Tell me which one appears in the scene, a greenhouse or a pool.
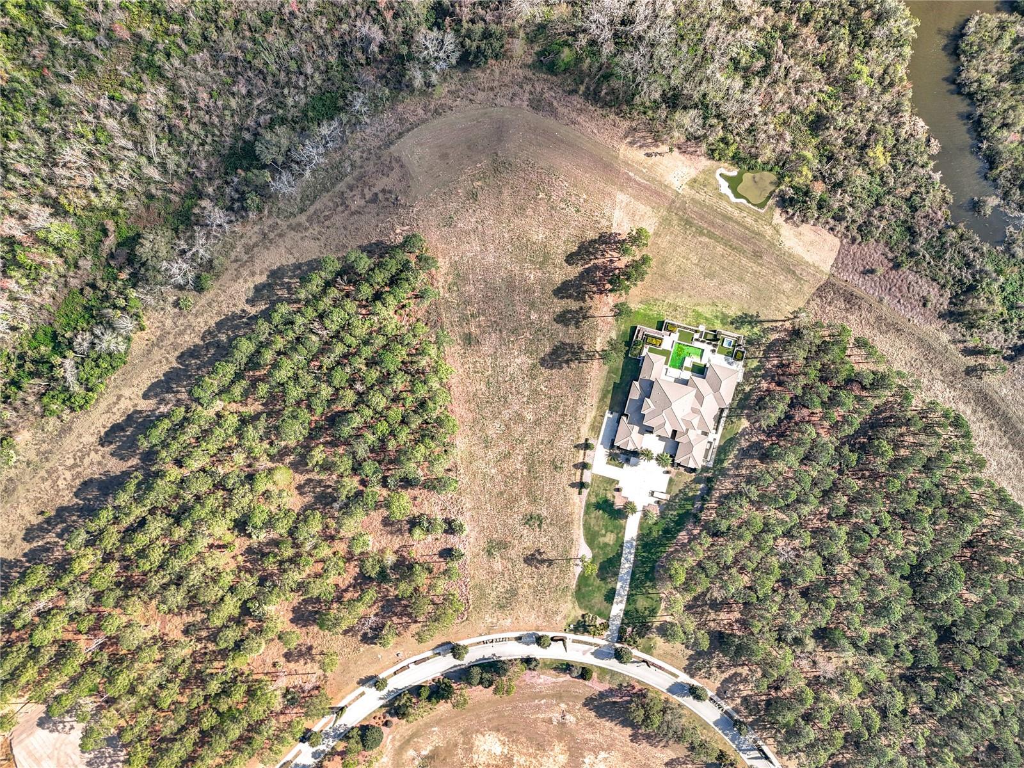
pool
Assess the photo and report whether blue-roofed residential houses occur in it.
No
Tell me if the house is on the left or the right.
right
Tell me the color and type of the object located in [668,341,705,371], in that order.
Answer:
green swimming pool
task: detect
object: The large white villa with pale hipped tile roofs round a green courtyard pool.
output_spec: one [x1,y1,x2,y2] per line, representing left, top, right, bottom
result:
[614,353,738,468]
